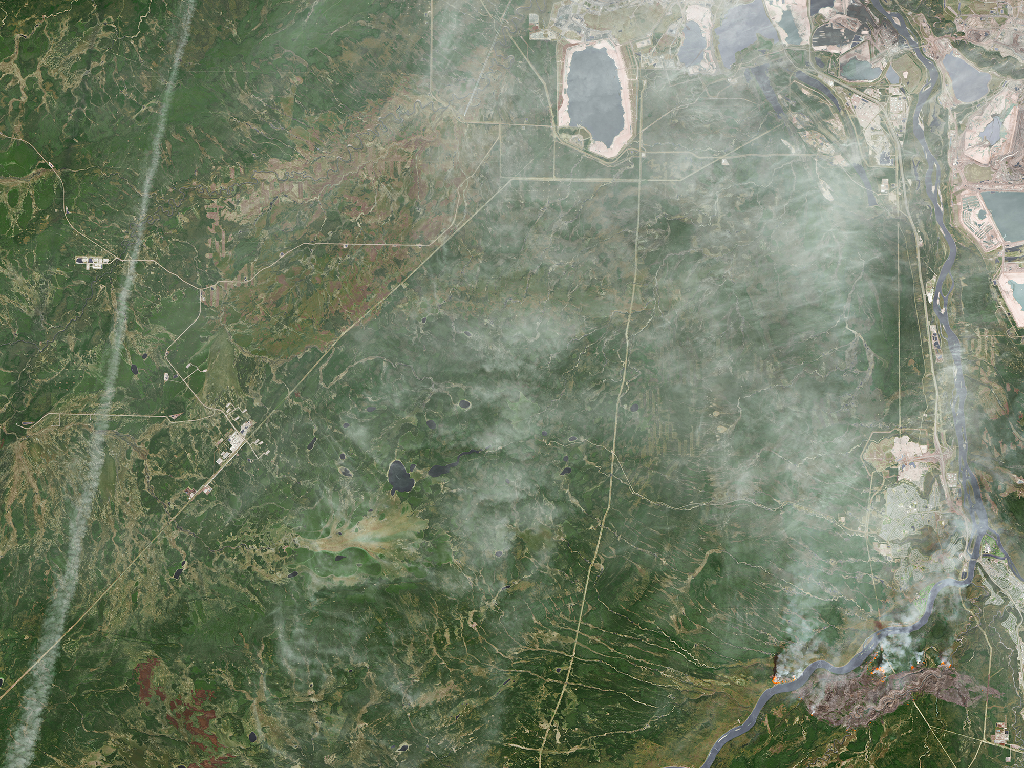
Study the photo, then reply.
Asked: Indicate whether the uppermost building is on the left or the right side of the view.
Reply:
right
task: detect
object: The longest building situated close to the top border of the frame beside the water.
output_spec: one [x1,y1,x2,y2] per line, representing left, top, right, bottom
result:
[812,6,878,46]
